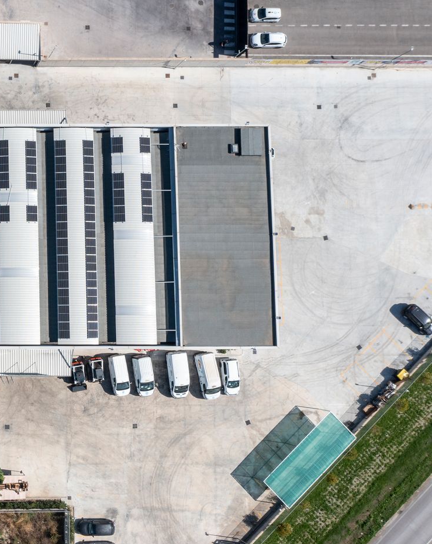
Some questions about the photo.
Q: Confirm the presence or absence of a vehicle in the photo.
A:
Yes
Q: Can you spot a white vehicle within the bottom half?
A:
Yes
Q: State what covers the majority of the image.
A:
paved ground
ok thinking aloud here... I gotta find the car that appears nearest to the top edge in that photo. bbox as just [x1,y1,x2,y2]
[251,3,287,22]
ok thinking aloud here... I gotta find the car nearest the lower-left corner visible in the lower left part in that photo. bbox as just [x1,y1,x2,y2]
[77,521,116,541]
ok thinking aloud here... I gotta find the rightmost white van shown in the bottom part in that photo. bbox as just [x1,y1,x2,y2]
[195,353,227,403]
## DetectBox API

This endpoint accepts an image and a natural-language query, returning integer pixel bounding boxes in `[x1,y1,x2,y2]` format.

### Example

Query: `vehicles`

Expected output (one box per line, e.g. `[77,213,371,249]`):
[252,29,289,47]
[71,361,91,389]
[405,306,432,341]
[133,355,159,397]
[195,353,227,403]
[168,353,195,400]
[77,521,116,541]
[107,354,135,398]
[251,3,287,22]
[87,358,107,382]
